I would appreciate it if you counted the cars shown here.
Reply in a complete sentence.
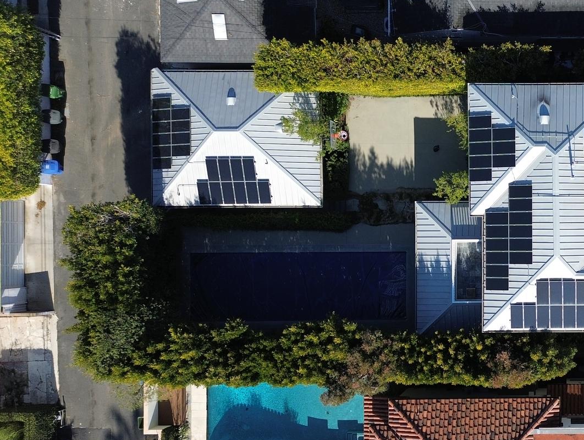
There are no cars in the image.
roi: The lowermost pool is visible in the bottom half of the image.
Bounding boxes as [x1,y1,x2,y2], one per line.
[207,373,385,440]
